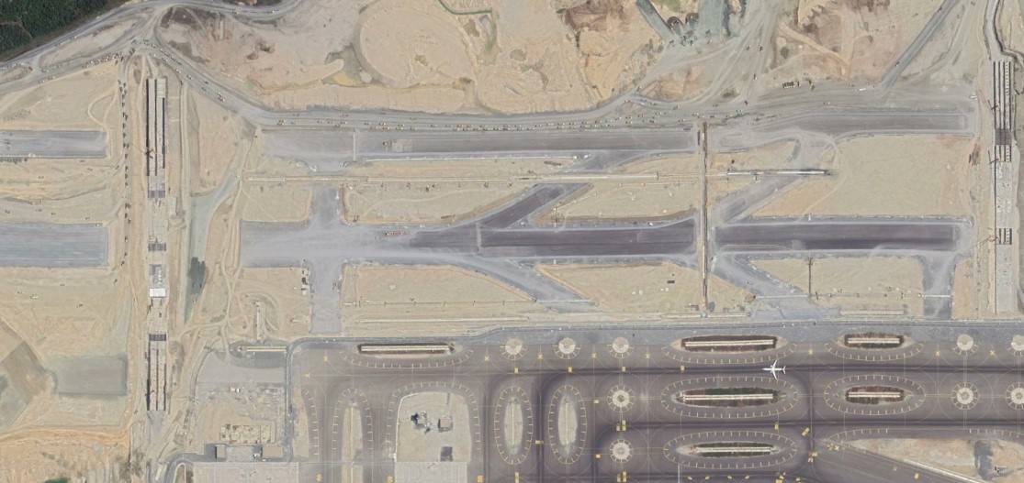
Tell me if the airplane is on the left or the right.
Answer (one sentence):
The airplane sits on the right side.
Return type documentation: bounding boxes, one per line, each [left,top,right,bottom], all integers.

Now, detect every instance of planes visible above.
[762,360,786,380]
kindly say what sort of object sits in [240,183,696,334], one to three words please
runway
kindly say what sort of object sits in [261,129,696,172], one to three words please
runway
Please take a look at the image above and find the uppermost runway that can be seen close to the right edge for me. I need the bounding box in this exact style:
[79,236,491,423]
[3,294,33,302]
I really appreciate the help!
[712,109,974,173]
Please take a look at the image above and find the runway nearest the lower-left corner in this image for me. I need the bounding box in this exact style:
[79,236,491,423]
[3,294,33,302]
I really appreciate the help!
[0,223,108,268]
